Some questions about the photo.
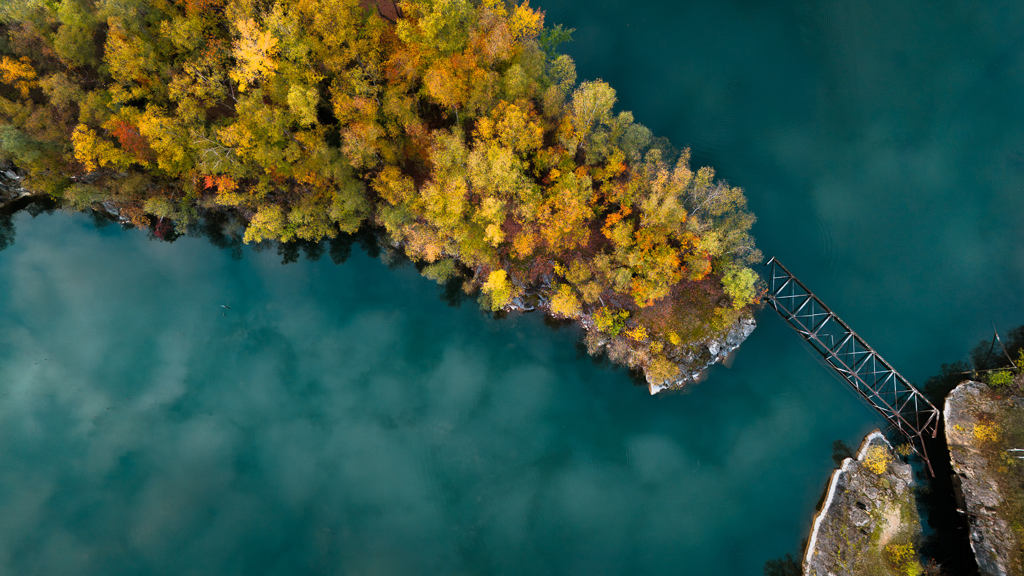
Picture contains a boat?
No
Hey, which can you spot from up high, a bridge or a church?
bridge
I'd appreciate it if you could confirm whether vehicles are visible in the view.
No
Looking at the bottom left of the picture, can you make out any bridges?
No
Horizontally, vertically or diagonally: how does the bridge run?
diagonally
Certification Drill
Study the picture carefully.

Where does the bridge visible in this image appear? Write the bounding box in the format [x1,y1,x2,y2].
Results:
[763,257,941,478]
